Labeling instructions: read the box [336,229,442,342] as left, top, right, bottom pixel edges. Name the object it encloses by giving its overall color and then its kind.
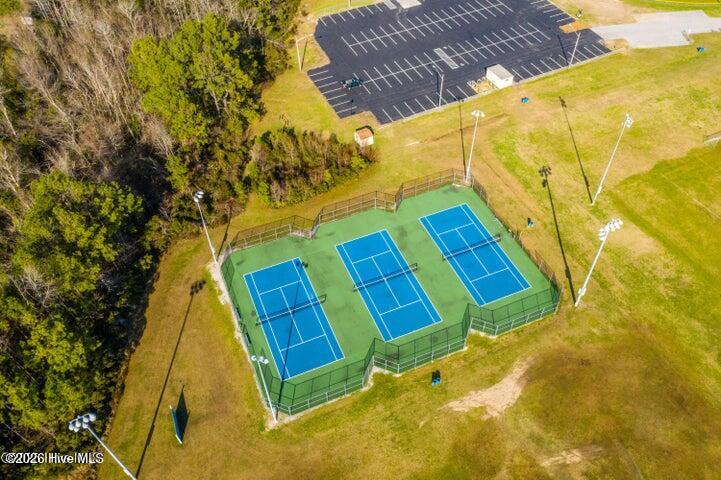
blue tennis court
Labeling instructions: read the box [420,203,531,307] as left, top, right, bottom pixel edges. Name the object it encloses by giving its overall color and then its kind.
blue tennis court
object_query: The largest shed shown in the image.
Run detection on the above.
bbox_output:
[487,64,517,89]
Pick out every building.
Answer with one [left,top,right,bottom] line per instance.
[354,127,374,146]
[487,64,517,89]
